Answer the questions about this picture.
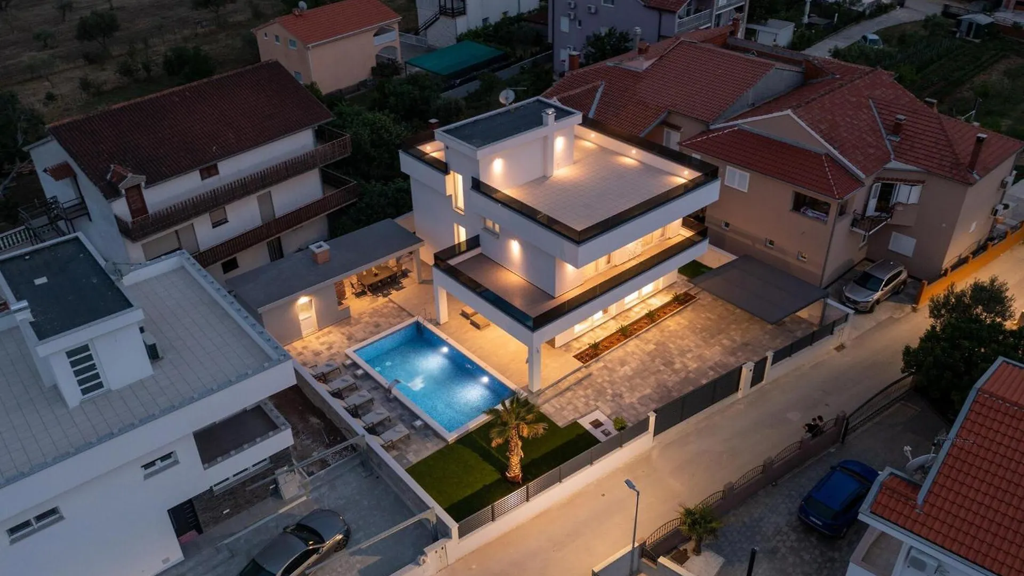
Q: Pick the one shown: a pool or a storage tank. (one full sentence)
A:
The one in the frame is a pool.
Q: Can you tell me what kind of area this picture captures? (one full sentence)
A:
It's a residential area.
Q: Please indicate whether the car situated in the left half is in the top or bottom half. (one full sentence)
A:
The car situated in the left half sits in the bottom half of the picture.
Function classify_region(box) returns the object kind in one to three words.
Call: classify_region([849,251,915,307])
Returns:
car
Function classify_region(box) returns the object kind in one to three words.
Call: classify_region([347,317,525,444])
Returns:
swimming pool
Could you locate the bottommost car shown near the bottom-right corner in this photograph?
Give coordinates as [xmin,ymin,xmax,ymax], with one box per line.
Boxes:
[810,445,886,537]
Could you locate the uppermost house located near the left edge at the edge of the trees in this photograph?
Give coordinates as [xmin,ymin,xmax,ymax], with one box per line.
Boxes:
[21,60,357,291]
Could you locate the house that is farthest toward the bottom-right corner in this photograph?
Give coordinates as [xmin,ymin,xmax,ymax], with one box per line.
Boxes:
[837,351,1024,576]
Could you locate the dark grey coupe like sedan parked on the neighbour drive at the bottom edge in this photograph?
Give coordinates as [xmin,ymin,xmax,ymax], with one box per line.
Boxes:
[247,511,348,576]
